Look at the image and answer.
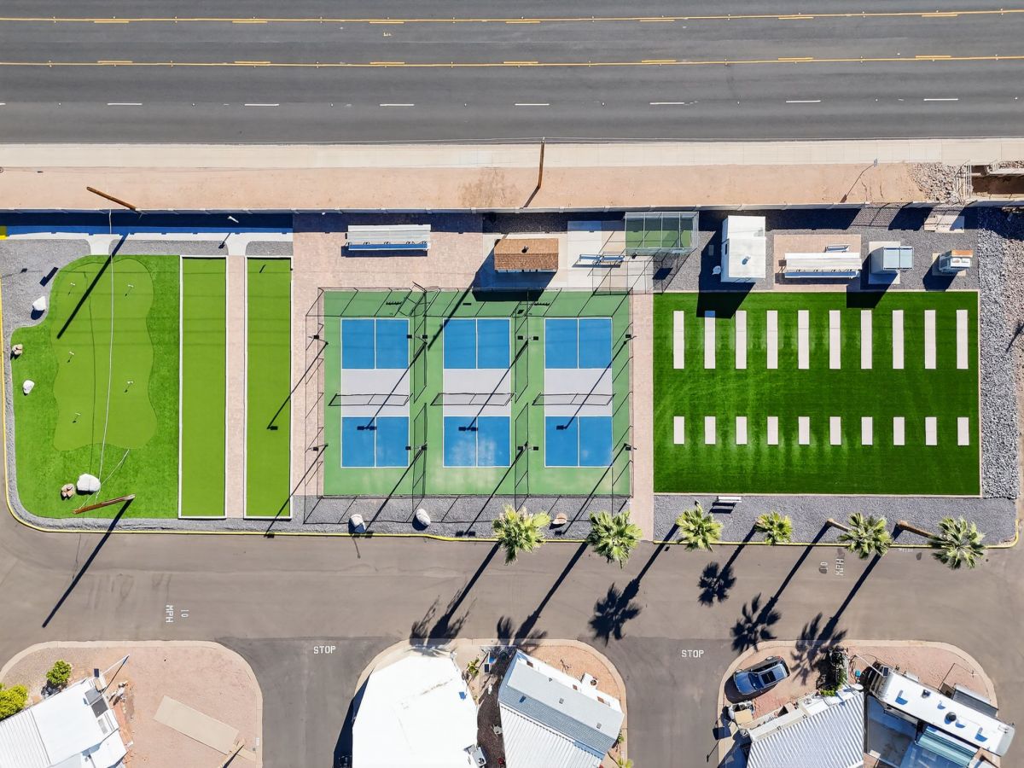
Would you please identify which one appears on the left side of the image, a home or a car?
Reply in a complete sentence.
There is a home on the left side of the image.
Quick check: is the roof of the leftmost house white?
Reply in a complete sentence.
Yes, white is the color of the roof of the leftmost house.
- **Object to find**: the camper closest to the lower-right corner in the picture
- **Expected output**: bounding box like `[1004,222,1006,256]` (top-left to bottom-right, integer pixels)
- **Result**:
[859,658,1013,768]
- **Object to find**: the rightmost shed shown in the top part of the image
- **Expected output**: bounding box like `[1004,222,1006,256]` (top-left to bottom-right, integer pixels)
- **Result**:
[869,246,914,273]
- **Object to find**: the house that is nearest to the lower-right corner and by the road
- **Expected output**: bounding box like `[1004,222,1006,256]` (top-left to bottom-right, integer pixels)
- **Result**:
[739,676,866,768]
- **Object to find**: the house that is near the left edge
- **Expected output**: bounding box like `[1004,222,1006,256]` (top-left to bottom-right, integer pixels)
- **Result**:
[0,669,136,768]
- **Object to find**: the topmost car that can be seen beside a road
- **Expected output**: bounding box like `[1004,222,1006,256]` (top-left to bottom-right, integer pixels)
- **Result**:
[734,656,789,693]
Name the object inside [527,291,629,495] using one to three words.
sports court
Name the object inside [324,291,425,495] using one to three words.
sports court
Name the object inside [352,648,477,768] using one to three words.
house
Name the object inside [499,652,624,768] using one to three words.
house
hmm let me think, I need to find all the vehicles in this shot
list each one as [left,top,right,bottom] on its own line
[734,656,789,693]
[859,658,1013,768]
[725,699,753,725]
